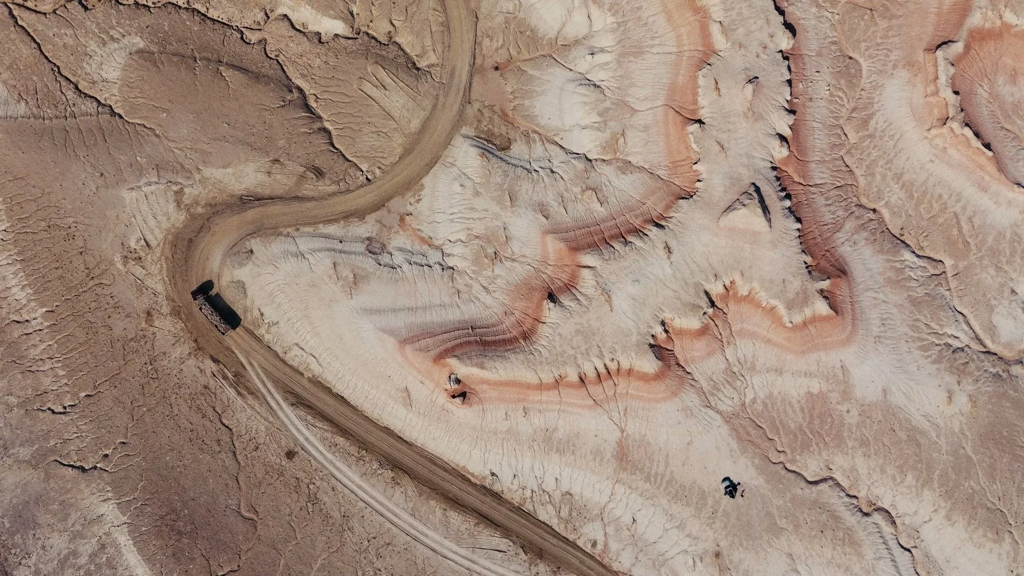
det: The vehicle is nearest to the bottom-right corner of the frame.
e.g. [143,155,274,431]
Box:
[721,478,736,500]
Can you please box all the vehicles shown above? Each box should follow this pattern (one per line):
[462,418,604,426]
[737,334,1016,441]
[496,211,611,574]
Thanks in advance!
[190,286,238,337]
[721,478,736,500]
